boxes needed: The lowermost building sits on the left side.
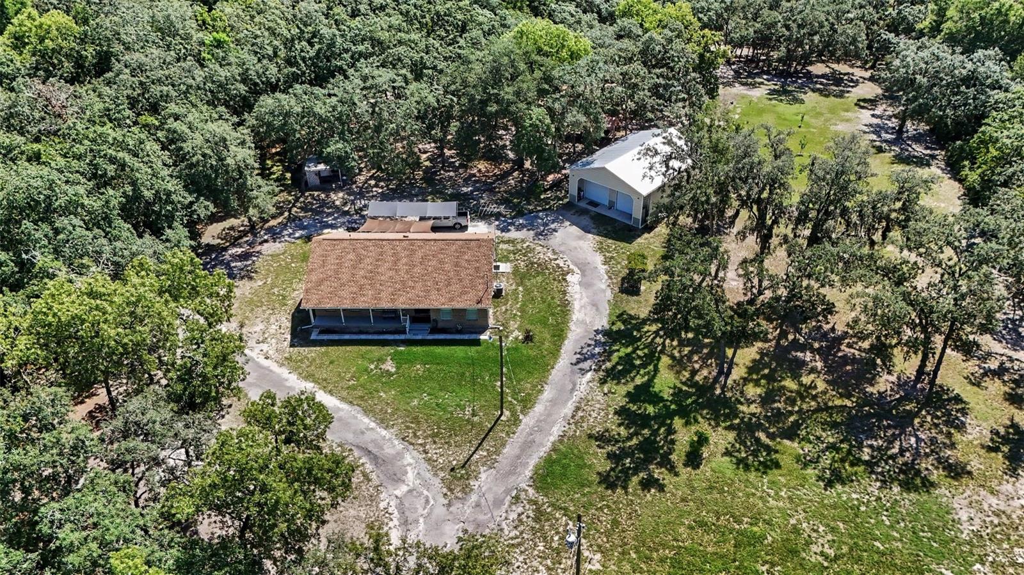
[300,232,502,335]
